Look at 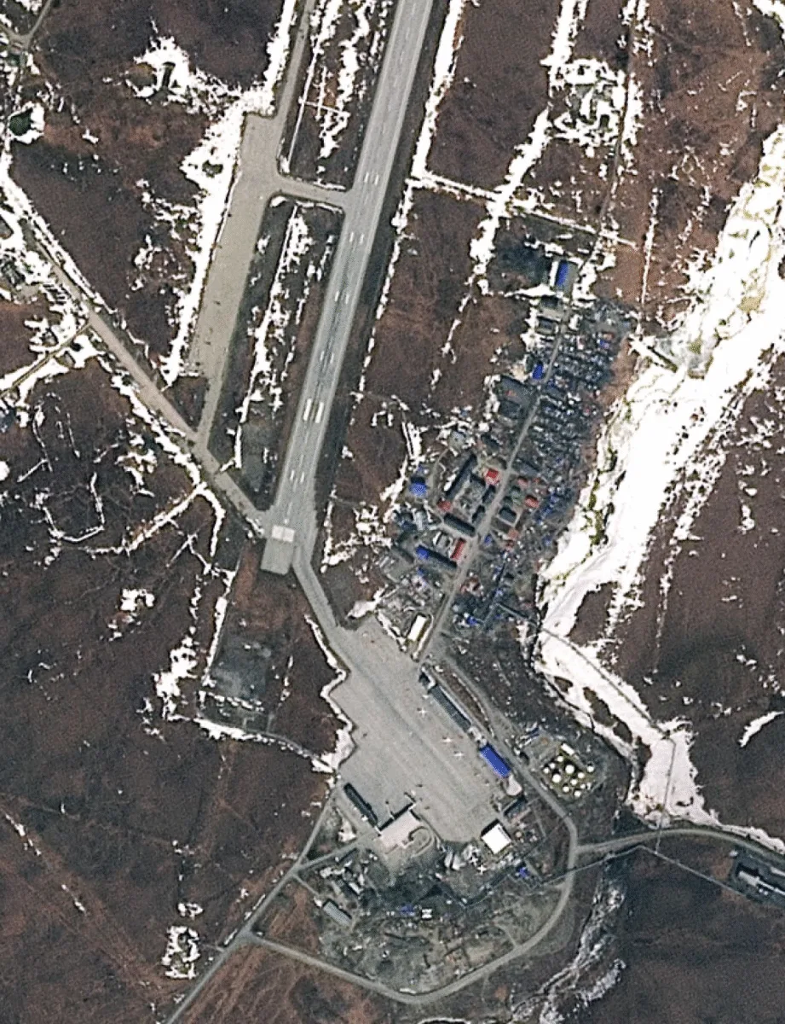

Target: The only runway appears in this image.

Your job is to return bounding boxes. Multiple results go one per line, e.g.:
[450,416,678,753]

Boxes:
[268,0,432,540]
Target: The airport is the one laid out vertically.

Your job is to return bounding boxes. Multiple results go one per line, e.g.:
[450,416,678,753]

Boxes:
[189,0,508,869]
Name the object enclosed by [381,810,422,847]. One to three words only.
building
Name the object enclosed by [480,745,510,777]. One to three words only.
building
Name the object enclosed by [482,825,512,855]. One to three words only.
hangar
